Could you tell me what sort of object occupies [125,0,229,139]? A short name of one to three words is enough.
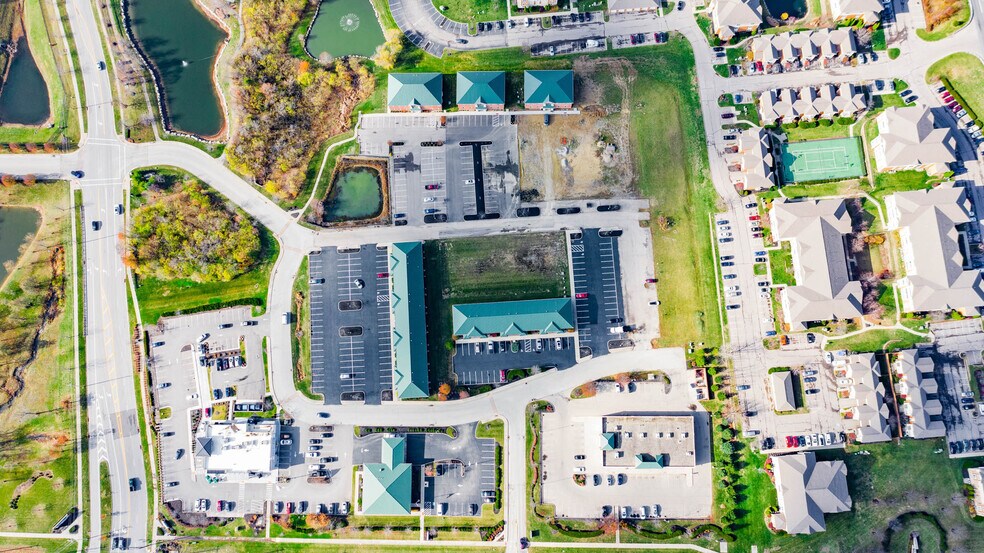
pond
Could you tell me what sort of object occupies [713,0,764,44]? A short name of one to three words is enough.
building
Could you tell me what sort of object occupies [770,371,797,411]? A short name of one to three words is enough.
building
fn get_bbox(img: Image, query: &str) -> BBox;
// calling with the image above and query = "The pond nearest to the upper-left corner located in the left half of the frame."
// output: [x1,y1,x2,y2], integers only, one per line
[0,37,50,125]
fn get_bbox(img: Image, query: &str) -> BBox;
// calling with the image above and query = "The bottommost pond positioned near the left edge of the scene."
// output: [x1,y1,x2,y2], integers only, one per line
[0,208,41,279]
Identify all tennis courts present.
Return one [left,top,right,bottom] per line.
[781,134,871,184]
